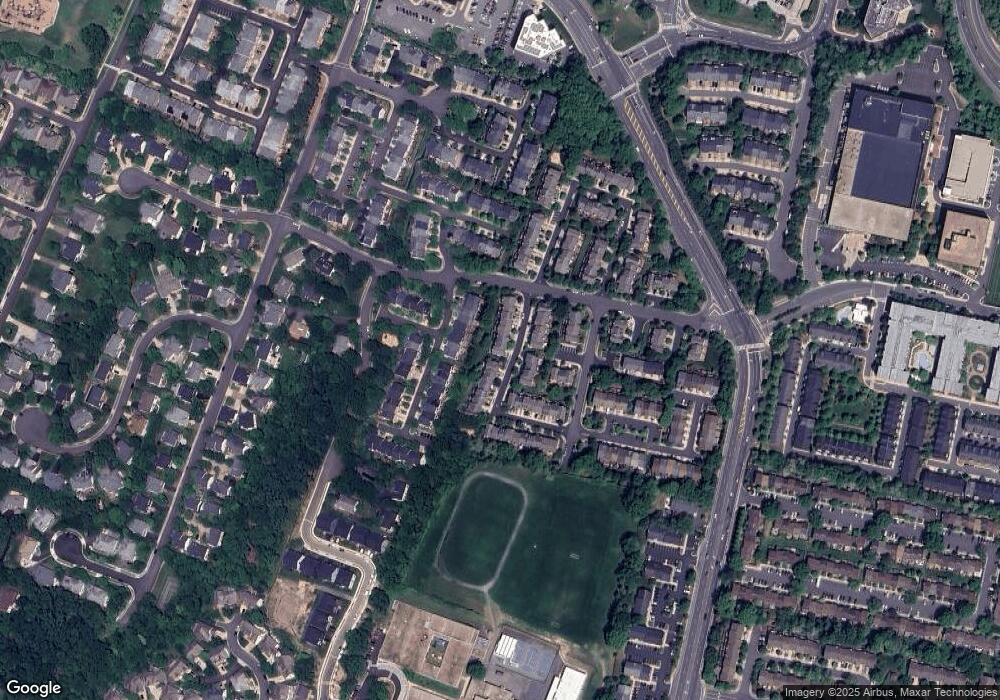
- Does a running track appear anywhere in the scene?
Yes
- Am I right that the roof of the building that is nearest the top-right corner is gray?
Yes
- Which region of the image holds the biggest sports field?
bottom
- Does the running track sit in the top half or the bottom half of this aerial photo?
bottom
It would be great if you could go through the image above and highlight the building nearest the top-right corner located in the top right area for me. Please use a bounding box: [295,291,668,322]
[864,0,912,41]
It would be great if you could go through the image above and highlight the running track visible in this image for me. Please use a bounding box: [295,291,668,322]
[436,472,527,589]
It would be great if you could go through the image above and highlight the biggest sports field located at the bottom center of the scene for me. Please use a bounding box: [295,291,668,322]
[408,465,638,644]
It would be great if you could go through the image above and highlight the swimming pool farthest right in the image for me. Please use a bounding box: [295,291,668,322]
[910,342,935,372]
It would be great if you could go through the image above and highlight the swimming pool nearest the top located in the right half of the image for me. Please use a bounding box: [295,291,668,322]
[835,305,853,322]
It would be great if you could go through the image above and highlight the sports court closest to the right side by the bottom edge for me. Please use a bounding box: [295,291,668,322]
[512,638,558,680]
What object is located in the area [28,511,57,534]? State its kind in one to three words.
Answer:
house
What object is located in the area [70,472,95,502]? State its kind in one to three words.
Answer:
house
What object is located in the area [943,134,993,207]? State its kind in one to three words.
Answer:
building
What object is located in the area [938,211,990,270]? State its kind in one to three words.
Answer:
building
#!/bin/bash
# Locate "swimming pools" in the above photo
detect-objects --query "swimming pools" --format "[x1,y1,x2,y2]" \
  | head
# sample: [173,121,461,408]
[910,342,935,372]
[835,305,853,322]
